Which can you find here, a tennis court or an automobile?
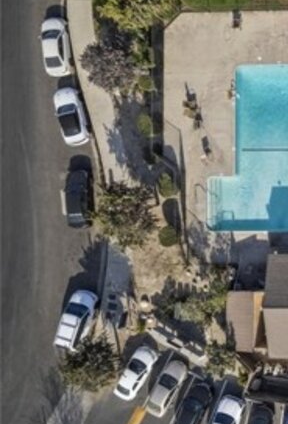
automobile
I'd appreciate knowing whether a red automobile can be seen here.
No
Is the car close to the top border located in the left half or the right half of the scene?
left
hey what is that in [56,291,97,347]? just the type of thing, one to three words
car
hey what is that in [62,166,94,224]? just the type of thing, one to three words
car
